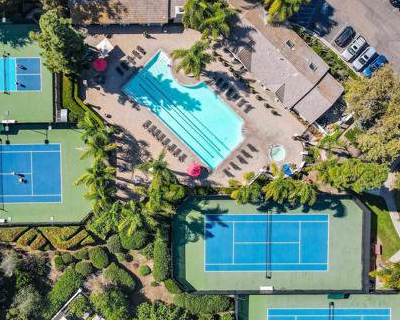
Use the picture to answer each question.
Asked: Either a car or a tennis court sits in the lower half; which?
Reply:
tennis court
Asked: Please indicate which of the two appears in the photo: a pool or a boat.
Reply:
pool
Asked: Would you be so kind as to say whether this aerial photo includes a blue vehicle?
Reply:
Yes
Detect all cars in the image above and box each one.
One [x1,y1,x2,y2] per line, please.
[365,53,388,72]
[352,46,378,71]
[342,36,368,61]
[389,0,400,8]
[333,24,357,48]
